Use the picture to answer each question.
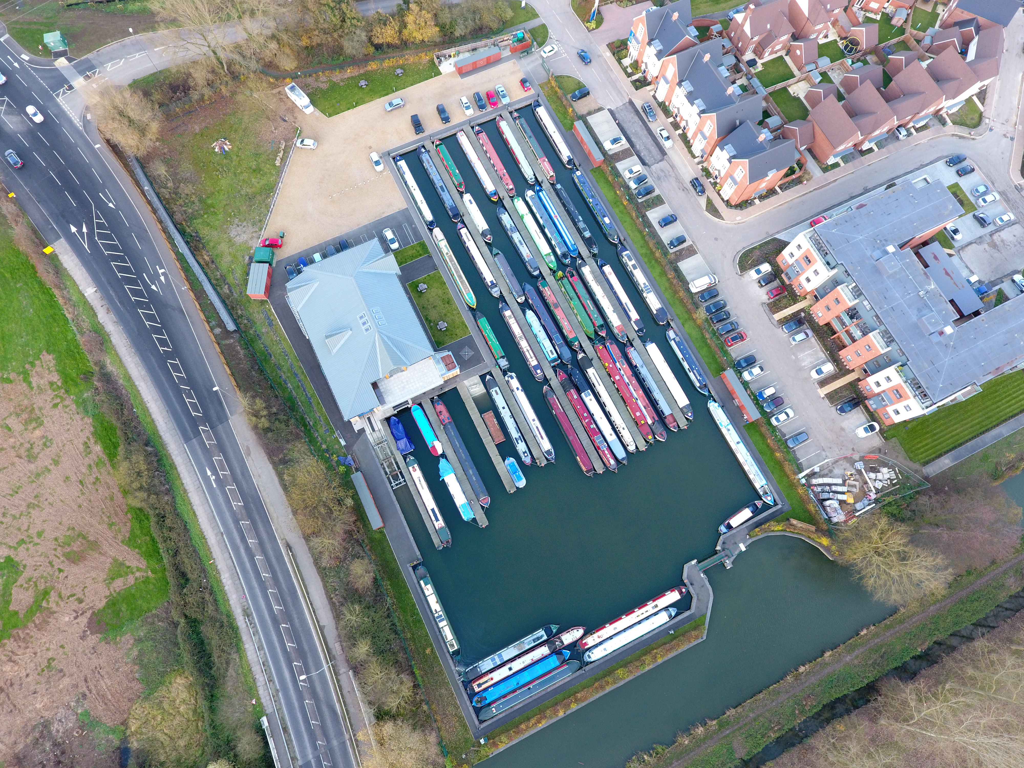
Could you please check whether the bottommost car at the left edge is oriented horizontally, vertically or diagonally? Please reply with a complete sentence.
The bottommost car at the left edge is laid out diagonally.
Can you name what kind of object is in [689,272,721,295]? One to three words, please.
vehicle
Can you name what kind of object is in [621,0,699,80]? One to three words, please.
house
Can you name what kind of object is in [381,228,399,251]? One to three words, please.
car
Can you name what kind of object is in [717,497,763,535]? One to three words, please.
boat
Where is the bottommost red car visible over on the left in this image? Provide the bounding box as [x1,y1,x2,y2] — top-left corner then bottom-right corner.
[260,237,283,250]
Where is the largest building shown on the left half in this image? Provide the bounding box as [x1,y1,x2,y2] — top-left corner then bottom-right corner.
[286,236,461,429]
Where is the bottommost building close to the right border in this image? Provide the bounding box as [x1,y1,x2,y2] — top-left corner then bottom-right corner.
[777,182,1024,426]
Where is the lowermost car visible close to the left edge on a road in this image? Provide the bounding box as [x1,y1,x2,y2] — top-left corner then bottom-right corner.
[4,150,25,170]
